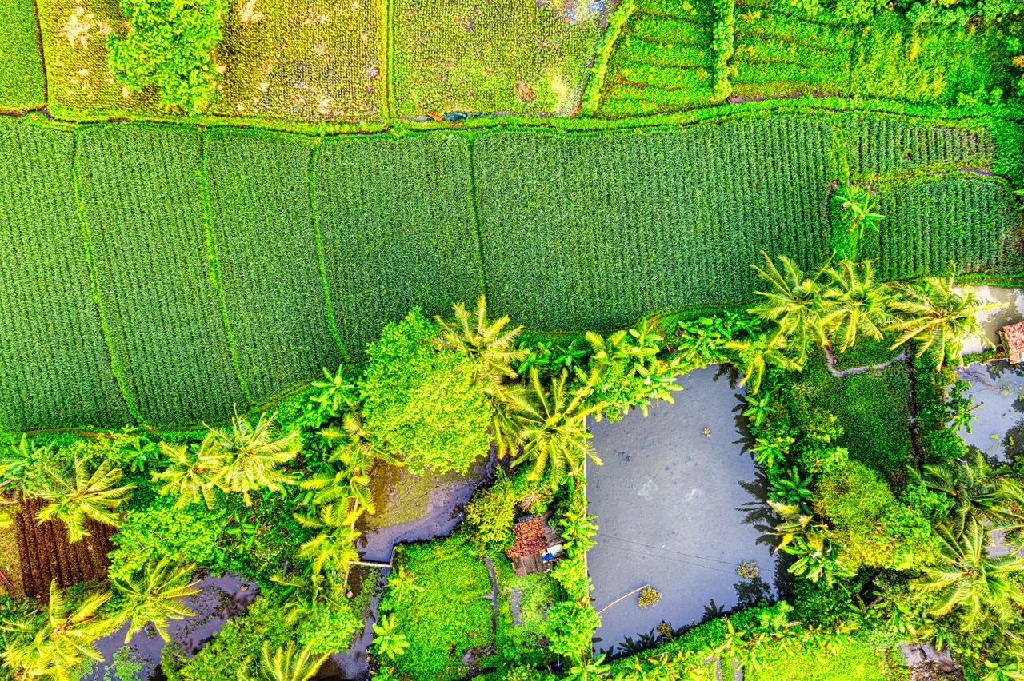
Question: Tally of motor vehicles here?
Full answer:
The count of motor vehicles is 0.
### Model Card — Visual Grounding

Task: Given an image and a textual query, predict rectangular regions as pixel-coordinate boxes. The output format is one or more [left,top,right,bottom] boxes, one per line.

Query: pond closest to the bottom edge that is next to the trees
[76,570,264,681]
